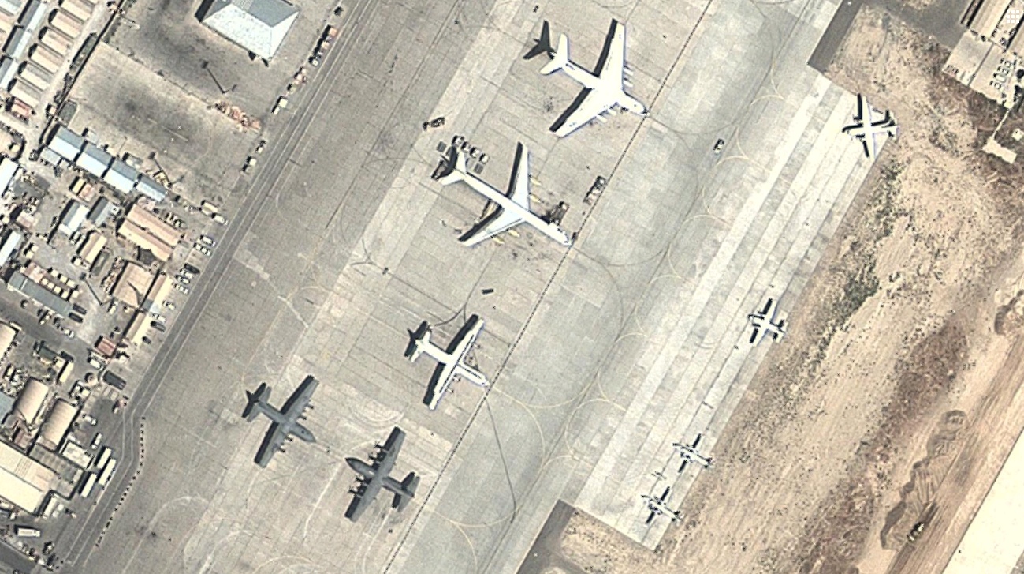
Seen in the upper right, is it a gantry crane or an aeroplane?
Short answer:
aeroplane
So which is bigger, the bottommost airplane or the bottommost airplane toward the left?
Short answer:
the bottommost airplane toward the left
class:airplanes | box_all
[645,488,682,529]
[540,22,647,137]
[676,435,713,476]
[440,146,570,245]
[347,426,422,520]
[848,98,902,161]
[751,299,788,346]
[243,376,317,468]
[411,321,489,408]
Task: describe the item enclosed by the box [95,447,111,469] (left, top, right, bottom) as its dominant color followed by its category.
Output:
white vehicle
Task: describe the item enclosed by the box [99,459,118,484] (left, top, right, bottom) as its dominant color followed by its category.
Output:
white vehicle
